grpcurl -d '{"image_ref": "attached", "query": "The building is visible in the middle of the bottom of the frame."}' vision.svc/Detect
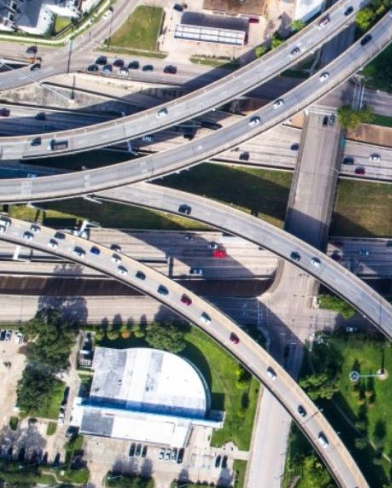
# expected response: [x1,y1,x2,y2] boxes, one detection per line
[75,347,236,446]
